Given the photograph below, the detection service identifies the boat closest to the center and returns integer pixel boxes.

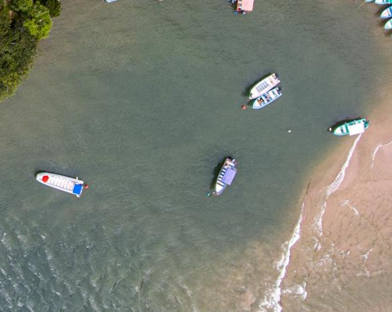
[215,157,237,196]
